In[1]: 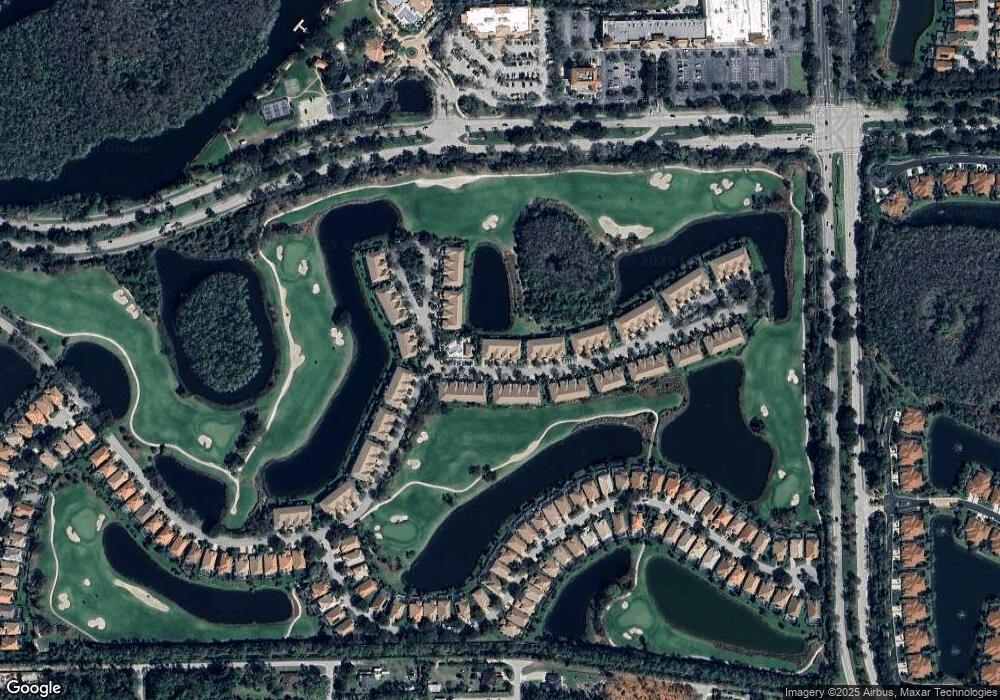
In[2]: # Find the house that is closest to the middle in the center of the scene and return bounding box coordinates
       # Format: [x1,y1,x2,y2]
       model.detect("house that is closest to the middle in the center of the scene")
[482,340,521,365]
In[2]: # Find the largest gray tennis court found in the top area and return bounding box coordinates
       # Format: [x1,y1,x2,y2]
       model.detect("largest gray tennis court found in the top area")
[262,98,291,120]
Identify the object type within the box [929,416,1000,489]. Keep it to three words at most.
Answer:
pond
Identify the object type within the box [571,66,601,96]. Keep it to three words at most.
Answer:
building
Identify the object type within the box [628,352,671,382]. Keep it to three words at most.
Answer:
house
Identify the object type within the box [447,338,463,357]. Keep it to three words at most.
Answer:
swimming pool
